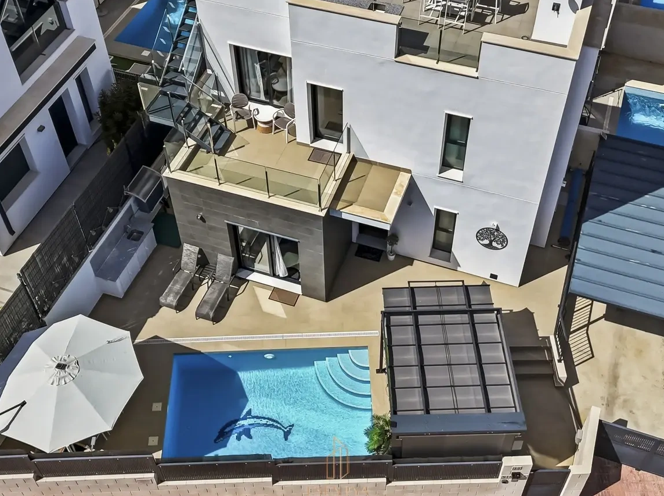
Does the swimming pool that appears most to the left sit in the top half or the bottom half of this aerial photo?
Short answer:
top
